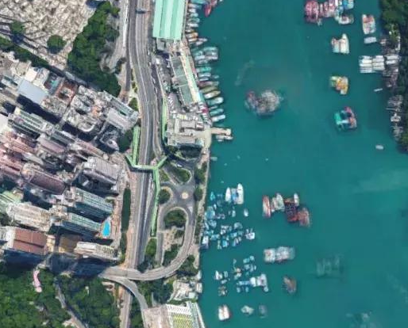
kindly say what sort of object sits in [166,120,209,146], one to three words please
building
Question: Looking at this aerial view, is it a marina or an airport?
marina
